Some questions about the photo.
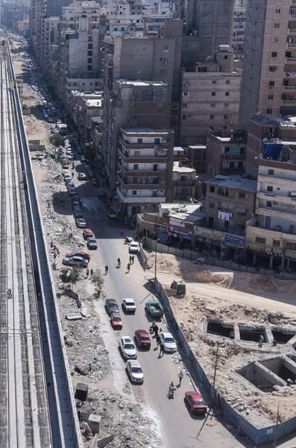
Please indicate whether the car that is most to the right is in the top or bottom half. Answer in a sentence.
The bottom half of the photo is where the car that is most to the right is.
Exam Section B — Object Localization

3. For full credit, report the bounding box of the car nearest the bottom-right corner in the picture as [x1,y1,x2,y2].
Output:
[182,392,212,418]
